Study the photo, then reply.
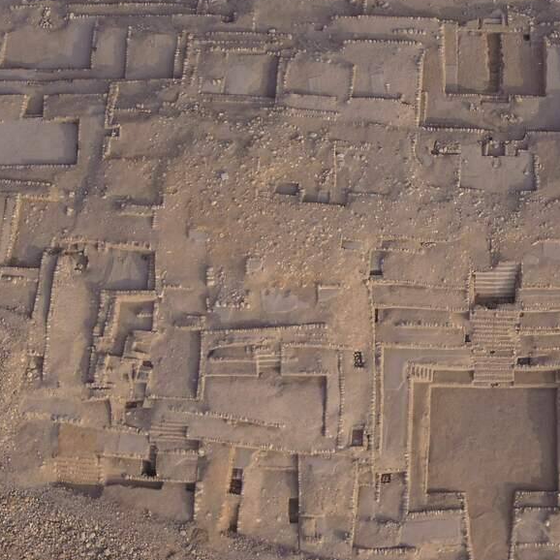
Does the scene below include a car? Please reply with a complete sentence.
No, there's no car here.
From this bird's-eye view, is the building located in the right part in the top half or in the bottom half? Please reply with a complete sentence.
The top half of the photo is where the building located in the right part is.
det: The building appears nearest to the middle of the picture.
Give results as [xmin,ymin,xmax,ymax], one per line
[162,264,210,331]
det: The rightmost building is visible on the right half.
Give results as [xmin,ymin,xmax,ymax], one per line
[416,10,560,135]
